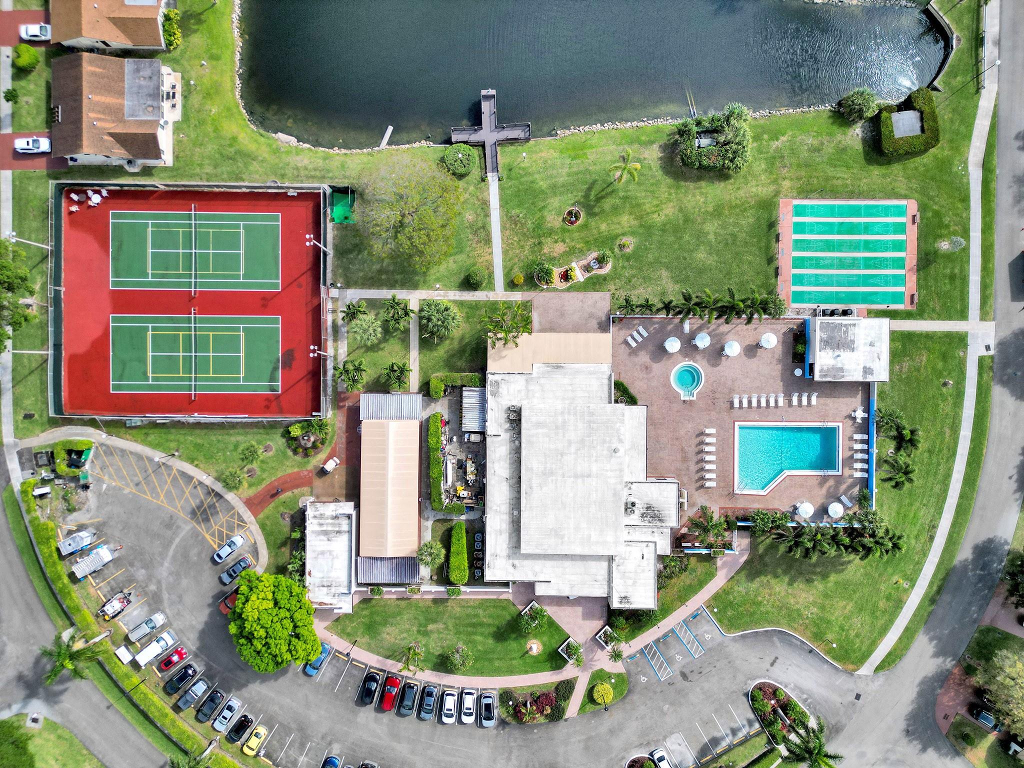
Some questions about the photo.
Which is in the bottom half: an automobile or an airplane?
automobile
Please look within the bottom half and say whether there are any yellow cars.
Yes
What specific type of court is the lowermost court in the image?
tennis court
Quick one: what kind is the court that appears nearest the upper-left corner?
tennis court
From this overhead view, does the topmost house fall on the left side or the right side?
left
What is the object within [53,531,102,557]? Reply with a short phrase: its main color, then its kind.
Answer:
white trailer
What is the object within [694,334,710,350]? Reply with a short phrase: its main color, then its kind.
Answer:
white umbrella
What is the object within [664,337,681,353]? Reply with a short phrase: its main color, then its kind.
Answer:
white umbrella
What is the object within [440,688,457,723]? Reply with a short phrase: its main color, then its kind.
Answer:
white car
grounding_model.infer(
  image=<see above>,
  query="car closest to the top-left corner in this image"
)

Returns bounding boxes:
[21,24,54,42]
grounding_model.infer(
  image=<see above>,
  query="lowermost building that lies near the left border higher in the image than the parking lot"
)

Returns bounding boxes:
[51,53,167,162]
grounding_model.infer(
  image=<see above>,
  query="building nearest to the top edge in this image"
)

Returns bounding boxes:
[54,0,170,52]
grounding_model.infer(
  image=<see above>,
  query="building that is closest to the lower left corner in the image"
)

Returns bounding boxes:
[305,499,358,612]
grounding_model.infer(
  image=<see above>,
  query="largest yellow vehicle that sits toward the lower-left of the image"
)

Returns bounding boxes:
[243,723,270,756]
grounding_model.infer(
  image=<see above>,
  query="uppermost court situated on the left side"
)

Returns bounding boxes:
[109,203,280,297]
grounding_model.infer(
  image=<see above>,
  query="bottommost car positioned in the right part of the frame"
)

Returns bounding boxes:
[651,745,676,768]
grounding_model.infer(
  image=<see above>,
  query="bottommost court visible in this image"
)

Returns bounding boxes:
[109,308,280,399]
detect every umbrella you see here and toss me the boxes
[827,502,843,518]
[760,333,777,349]
[664,337,681,353]
[797,502,813,518]
[724,340,740,357]
[694,334,710,350]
